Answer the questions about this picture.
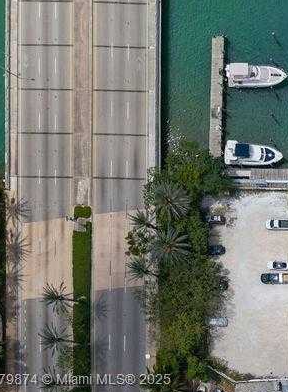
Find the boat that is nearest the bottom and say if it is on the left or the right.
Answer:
right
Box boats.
[226,61,288,89]
[224,142,284,169]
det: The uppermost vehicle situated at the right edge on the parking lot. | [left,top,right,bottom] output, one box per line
[268,219,288,231]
